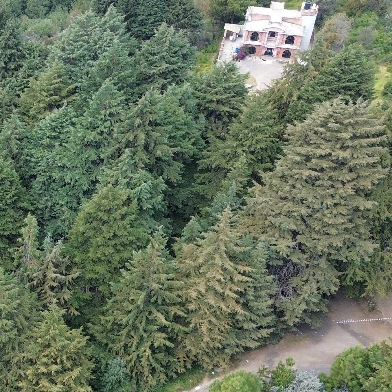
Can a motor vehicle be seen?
No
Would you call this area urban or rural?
rural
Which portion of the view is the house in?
top right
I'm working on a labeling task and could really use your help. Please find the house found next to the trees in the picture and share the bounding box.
[245,3,328,63]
